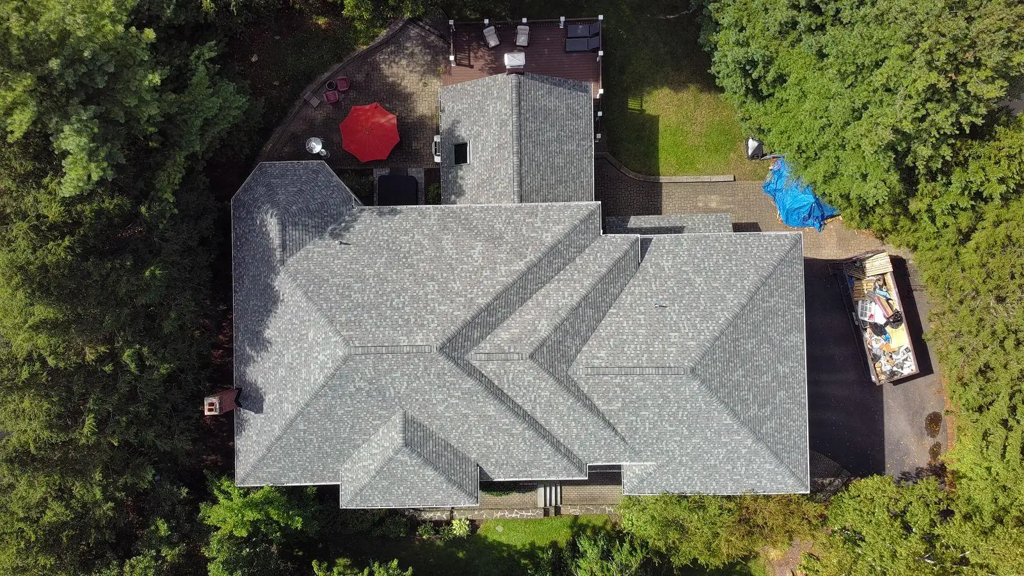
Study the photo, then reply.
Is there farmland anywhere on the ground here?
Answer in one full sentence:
No, no farmland is visible.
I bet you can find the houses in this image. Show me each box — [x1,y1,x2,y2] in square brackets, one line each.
[204,72,811,511]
